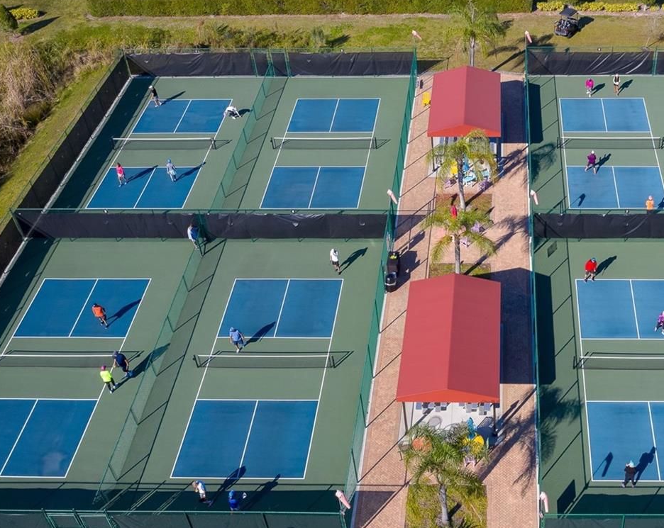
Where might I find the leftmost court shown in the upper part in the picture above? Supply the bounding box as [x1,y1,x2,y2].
[30,77,274,238]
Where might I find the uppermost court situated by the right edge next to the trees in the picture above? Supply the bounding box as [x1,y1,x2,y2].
[528,75,664,213]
